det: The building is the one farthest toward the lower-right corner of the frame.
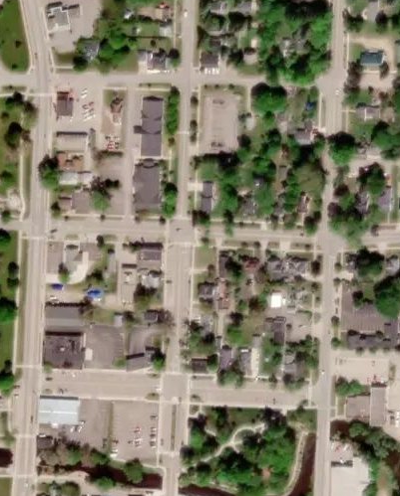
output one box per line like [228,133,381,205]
[331,457,370,496]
